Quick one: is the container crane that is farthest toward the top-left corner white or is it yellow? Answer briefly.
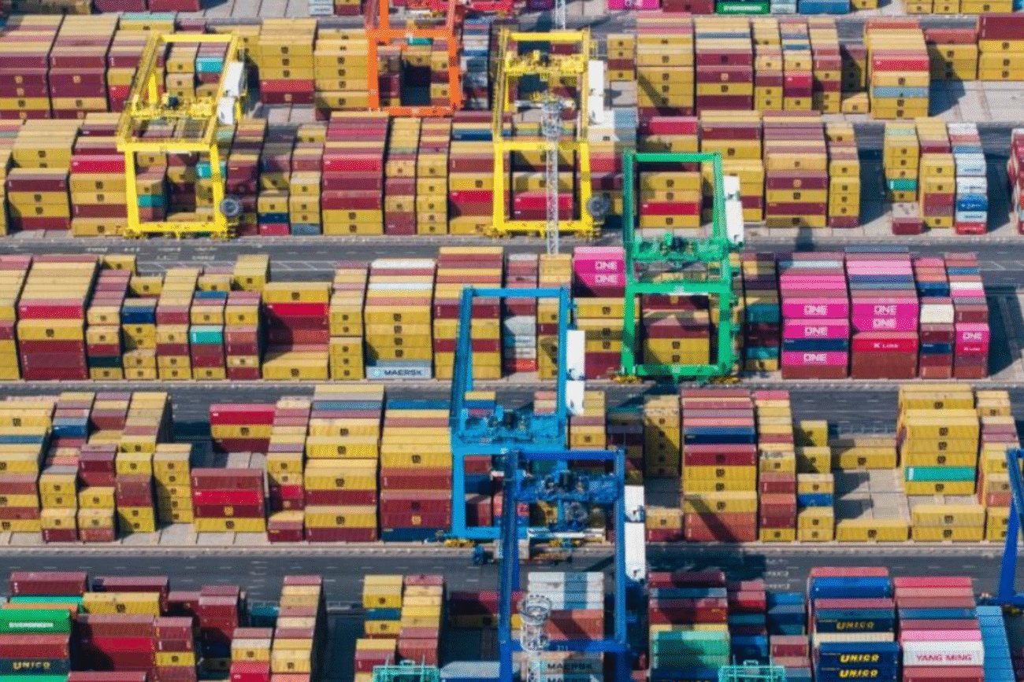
yellow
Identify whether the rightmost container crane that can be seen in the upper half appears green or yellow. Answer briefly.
green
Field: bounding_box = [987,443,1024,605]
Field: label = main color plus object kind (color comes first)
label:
blue container crane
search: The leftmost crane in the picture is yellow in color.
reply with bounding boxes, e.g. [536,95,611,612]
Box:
[112,27,251,239]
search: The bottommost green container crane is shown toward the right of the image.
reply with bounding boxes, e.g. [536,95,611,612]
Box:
[615,150,749,385]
